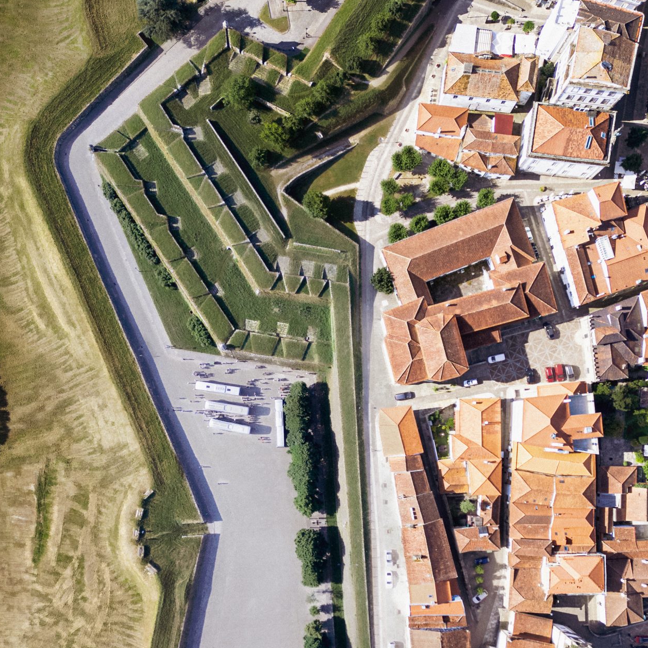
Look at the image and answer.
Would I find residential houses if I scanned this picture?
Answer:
Yes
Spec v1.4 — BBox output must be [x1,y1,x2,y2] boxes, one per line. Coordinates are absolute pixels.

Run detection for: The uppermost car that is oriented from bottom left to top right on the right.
[471,589,487,604]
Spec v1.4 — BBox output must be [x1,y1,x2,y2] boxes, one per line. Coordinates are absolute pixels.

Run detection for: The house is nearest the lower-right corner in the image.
[597,591,644,627]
